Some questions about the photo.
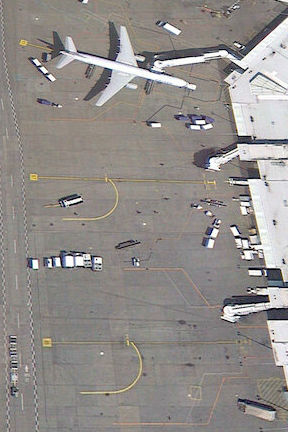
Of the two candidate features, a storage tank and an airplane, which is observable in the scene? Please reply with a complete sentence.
Visible in the photo is an airplane.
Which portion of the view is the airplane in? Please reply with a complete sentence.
The airplane appears toward the top of the photo.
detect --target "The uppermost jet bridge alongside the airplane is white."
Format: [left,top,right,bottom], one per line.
[151,49,247,73]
